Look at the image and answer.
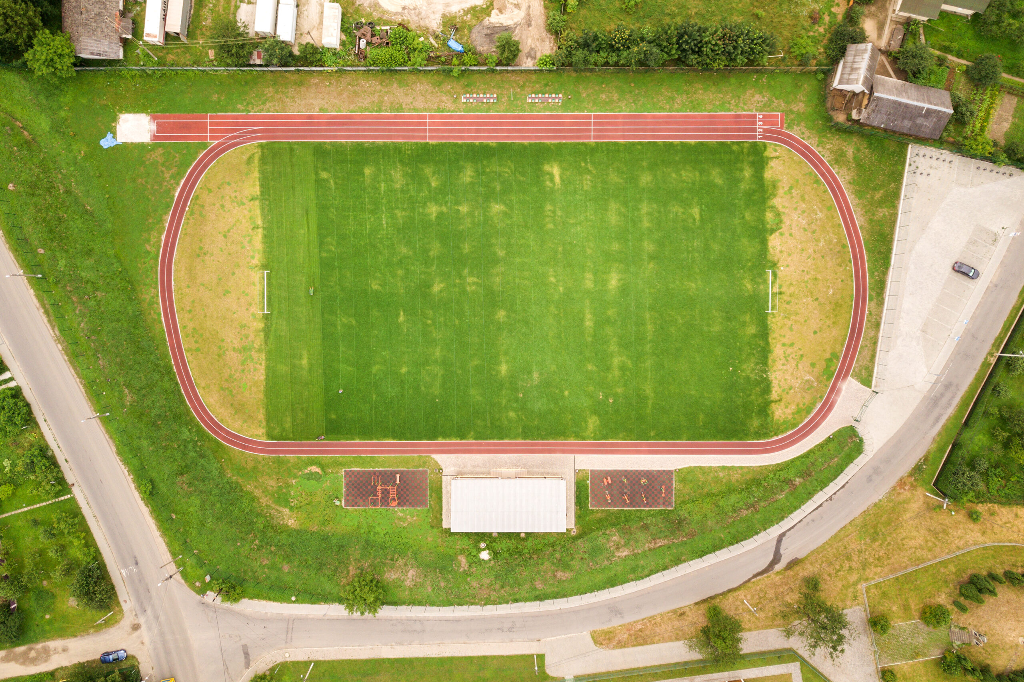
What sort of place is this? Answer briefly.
sports ground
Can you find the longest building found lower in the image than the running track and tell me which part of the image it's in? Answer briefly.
bottom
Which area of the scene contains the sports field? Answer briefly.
center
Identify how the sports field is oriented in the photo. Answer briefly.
from side to side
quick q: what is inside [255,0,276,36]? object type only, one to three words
trailer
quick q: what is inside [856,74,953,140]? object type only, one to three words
barn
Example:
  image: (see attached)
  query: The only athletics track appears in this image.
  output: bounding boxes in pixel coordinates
[150,112,869,457]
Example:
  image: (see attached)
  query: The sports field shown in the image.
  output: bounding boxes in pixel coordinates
[172,141,854,442]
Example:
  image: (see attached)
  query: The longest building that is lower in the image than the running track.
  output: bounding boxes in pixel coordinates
[451,471,566,532]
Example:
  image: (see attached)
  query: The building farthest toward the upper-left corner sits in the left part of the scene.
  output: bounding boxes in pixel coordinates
[67,0,137,61]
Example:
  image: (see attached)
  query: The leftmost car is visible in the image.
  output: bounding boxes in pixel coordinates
[100,647,128,663]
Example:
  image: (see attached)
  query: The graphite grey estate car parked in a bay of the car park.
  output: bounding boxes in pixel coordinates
[953,261,981,280]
